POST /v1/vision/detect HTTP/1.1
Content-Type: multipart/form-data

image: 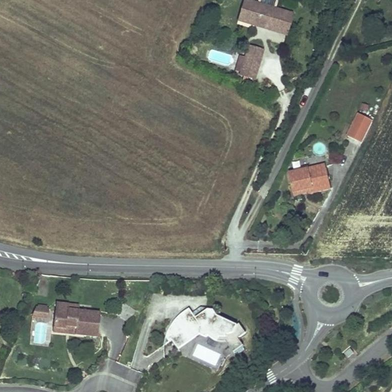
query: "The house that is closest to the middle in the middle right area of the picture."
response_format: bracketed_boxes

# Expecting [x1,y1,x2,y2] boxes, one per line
[287,162,330,198]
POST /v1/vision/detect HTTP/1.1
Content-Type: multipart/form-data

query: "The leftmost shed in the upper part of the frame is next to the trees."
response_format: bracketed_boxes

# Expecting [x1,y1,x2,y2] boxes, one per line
[235,44,264,80]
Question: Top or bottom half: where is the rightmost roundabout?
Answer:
bottom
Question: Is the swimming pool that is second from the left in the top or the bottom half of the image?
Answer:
bottom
